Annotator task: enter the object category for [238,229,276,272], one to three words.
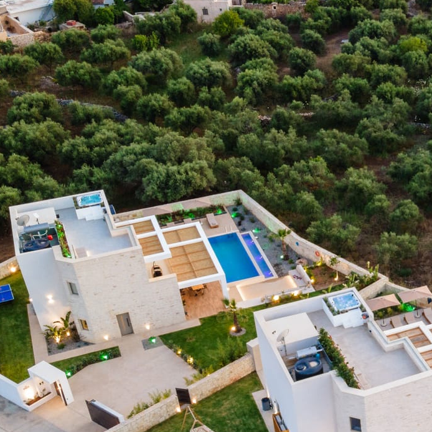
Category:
swimming pool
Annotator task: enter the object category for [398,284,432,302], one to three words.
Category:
umbrella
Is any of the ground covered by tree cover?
Yes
